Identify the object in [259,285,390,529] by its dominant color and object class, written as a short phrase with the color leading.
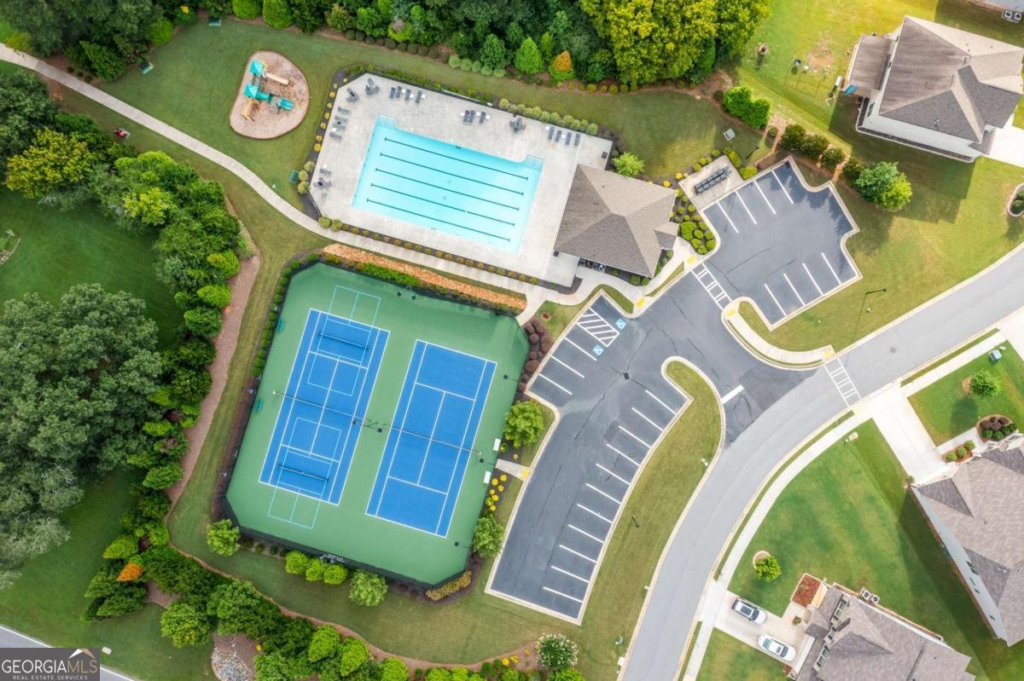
blue tennis court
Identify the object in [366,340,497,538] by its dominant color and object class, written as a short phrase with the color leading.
blue tennis court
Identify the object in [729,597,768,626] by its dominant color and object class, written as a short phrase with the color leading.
white car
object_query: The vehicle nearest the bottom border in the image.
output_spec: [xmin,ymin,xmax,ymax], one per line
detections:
[757,633,796,659]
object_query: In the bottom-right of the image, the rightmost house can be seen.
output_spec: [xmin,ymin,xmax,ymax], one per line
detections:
[909,430,1024,646]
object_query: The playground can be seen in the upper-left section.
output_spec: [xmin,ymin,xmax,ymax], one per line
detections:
[240,59,295,122]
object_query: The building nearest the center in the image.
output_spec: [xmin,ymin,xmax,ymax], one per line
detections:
[554,163,679,277]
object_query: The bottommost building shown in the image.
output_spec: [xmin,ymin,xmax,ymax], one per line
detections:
[787,583,976,681]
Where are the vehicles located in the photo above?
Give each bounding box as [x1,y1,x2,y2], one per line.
[757,633,796,659]
[729,597,768,626]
